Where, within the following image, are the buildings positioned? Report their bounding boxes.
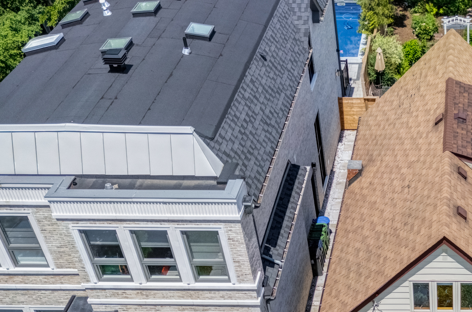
[0,0,349,312]
[316,31,472,312]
